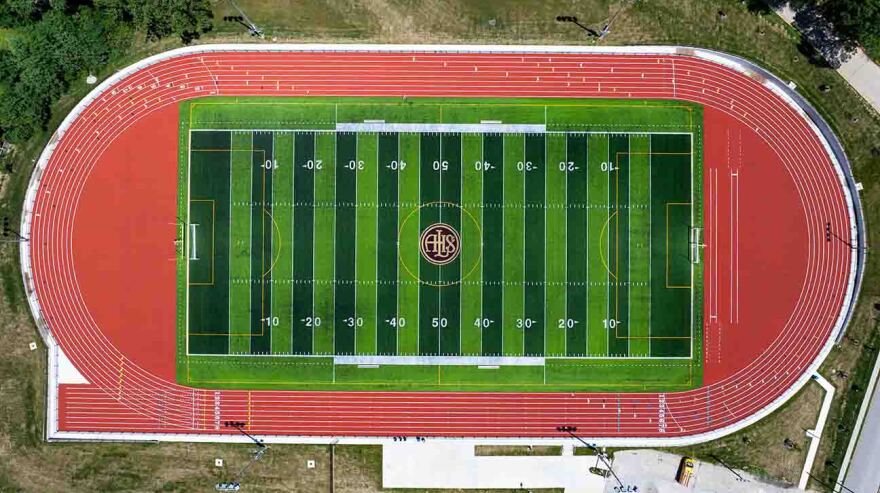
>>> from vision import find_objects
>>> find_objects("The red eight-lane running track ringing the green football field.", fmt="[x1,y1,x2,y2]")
[29,53,853,436]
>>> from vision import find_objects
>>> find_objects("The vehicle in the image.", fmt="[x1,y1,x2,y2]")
[681,458,697,490]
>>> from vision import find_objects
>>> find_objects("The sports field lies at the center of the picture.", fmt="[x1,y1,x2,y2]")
[175,96,704,393]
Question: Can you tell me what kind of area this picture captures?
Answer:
sports ground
